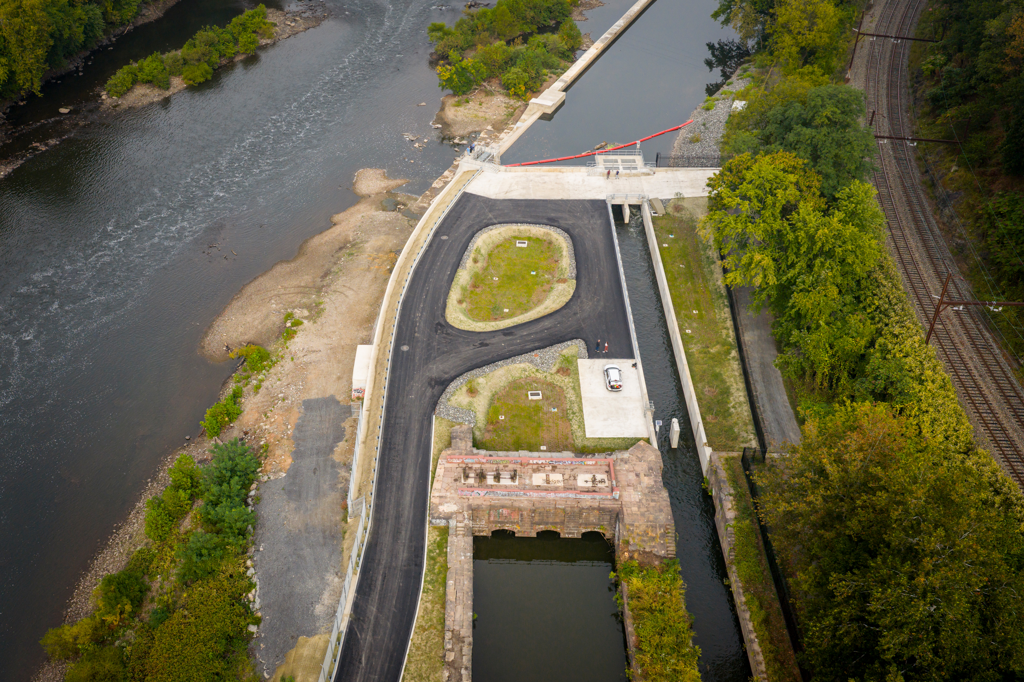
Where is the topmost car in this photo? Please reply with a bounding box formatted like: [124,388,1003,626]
[603,366,627,395]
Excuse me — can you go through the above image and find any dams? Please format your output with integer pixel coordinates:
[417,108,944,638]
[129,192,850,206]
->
[480,0,654,159]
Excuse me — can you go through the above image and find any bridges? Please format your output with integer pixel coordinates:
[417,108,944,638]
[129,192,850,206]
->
[606,187,650,226]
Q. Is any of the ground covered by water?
Yes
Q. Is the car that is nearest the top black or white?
white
